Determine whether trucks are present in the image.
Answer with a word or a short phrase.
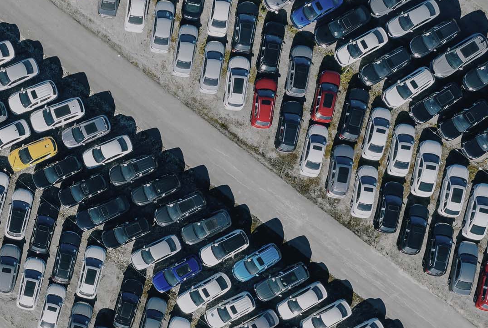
No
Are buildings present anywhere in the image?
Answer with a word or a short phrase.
No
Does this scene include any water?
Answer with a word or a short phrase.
No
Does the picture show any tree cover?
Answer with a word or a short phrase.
No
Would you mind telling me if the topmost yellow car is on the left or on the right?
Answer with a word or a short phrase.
left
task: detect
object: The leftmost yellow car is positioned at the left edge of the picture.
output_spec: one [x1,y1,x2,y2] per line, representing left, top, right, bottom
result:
[8,136,59,171]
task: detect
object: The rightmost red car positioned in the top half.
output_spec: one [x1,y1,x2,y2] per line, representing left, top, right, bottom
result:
[309,71,341,123]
